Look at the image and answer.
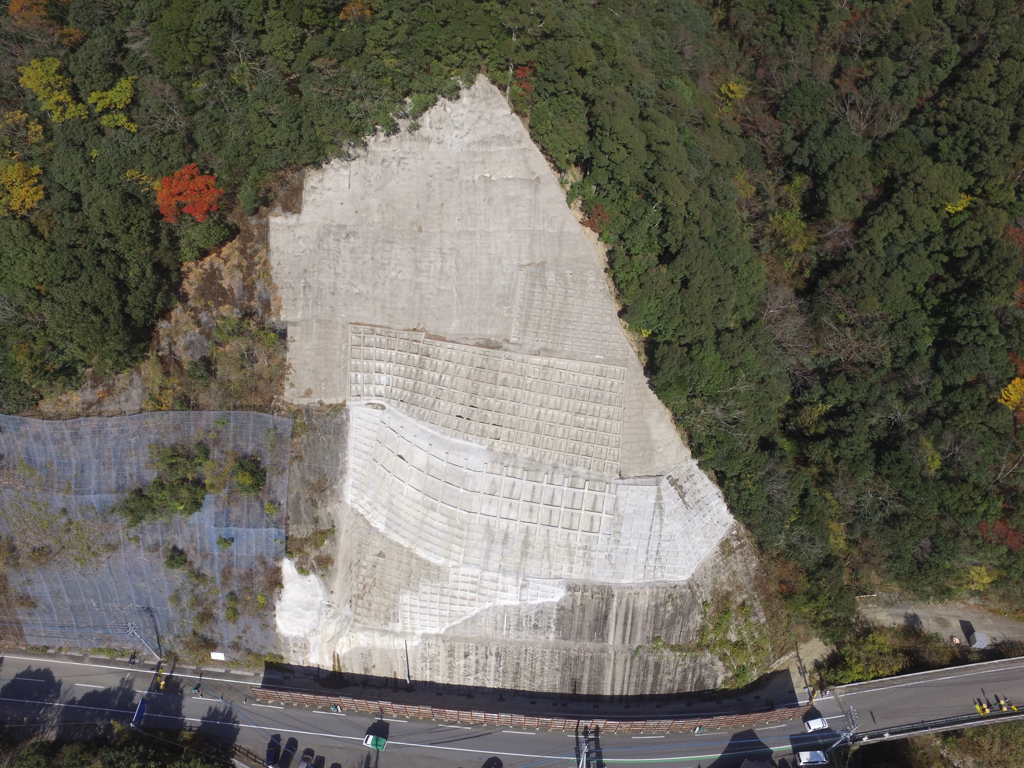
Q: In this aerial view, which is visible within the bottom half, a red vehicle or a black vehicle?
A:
black vehicle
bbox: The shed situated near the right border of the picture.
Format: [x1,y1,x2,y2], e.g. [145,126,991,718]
[970,630,996,649]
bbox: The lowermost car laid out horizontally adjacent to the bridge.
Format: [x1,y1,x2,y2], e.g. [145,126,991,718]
[794,750,828,767]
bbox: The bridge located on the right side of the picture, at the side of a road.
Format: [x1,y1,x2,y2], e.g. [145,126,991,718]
[825,653,1024,749]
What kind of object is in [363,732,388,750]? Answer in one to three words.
vehicle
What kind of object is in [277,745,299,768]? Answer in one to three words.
car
